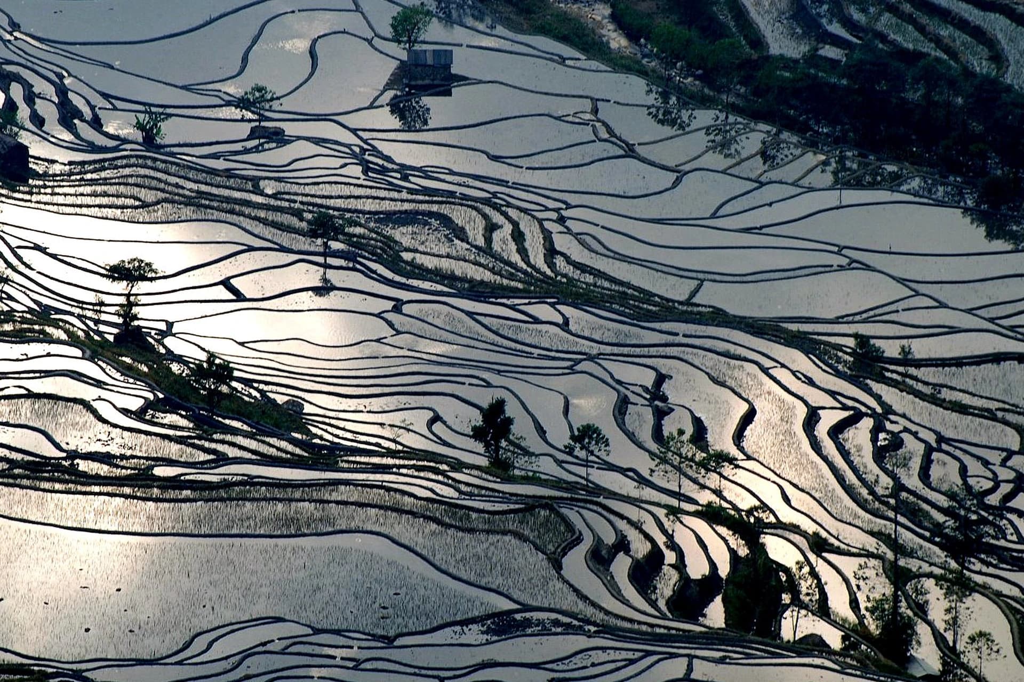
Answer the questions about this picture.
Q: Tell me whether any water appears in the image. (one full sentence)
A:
Yes, water shows up in the scene.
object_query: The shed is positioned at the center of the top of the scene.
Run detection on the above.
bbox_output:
[406,46,453,85]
